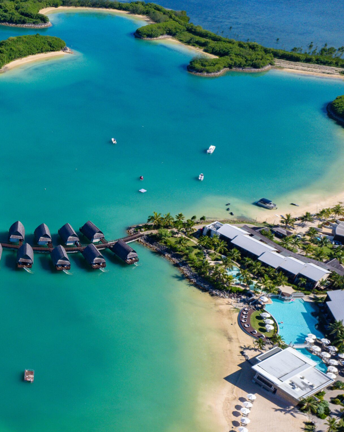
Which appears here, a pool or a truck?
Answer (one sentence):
There is a pool in the scene.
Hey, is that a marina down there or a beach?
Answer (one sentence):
This looks like a marina.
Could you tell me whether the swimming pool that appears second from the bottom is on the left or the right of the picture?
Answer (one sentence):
The swimming pool that appears second from the bottom is on the right side of the image.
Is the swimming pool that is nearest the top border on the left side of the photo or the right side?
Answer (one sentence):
The swimming pool that is nearest the top border sits on the right side.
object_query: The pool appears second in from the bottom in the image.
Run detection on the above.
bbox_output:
[262,297,326,345]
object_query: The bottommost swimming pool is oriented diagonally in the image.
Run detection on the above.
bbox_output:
[294,348,329,374]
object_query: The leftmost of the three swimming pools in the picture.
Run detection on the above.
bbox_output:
[225,265,268,294]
